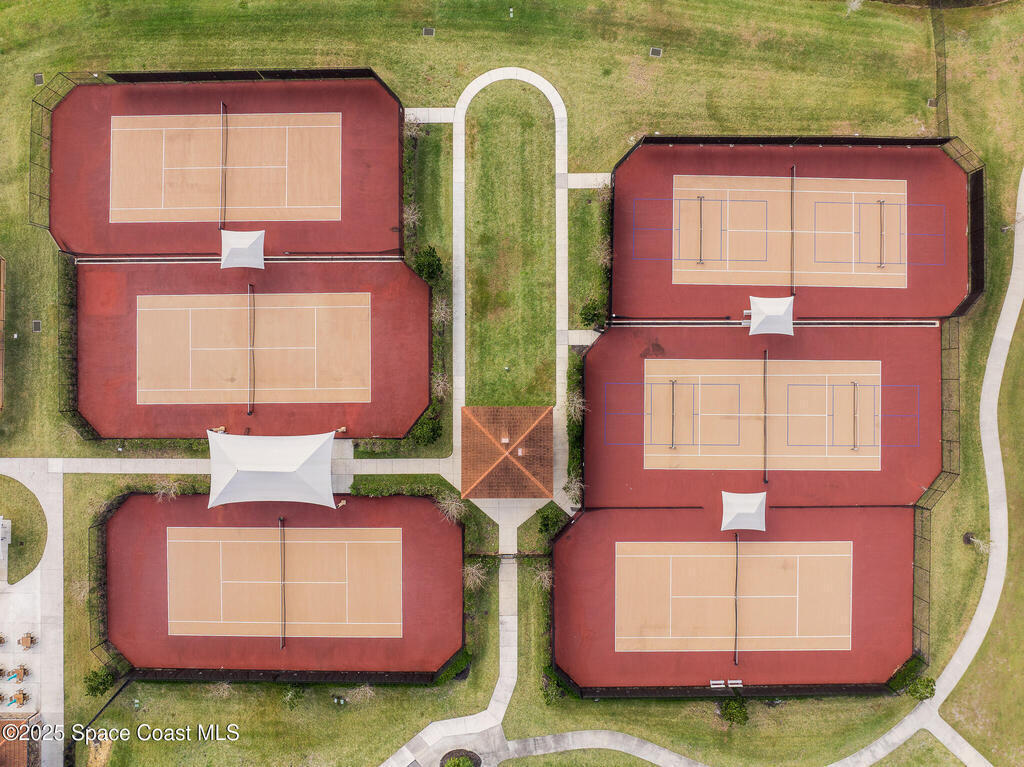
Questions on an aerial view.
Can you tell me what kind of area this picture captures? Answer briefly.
sports ground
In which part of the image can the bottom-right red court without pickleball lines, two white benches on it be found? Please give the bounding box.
[554,507,914,686]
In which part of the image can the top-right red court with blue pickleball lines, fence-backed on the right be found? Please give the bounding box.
[609,145,968,321]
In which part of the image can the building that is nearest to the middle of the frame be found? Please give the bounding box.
[461,406,554,500]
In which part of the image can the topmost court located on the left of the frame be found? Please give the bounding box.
[49,80,401,258]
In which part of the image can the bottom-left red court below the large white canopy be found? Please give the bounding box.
[106,494,461,671]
